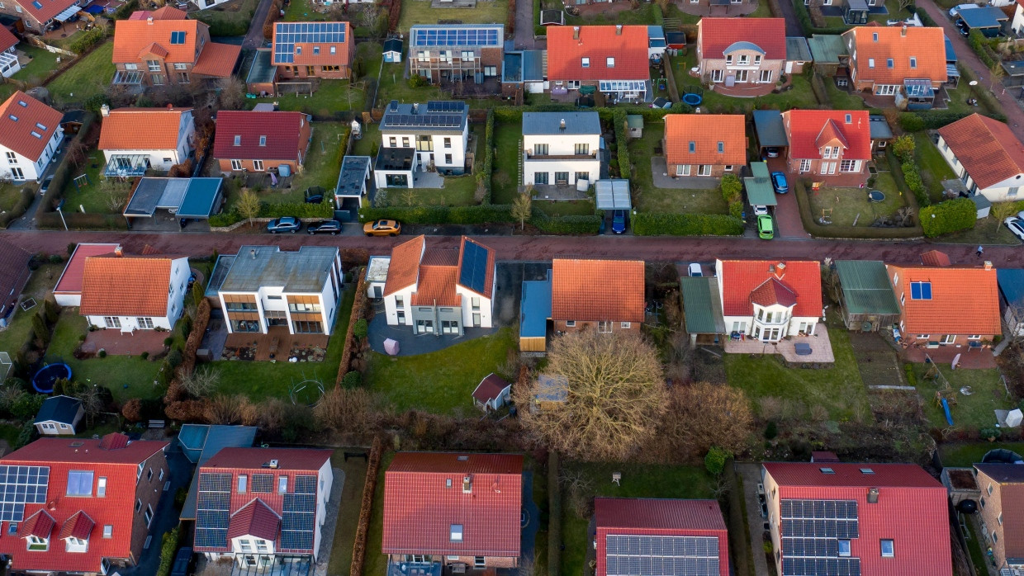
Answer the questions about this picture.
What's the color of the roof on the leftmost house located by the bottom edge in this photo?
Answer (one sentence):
The roof of the leftmost house located by the bottom edge is red.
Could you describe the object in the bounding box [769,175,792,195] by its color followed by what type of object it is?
blue car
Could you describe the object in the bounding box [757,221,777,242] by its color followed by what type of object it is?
green car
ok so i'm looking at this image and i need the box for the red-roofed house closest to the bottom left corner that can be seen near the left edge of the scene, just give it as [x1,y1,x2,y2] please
[0,433,173,576]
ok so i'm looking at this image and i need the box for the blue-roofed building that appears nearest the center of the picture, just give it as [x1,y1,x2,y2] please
[520,281,546,354]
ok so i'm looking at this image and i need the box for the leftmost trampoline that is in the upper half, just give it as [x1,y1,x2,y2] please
[302,180,325,205]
